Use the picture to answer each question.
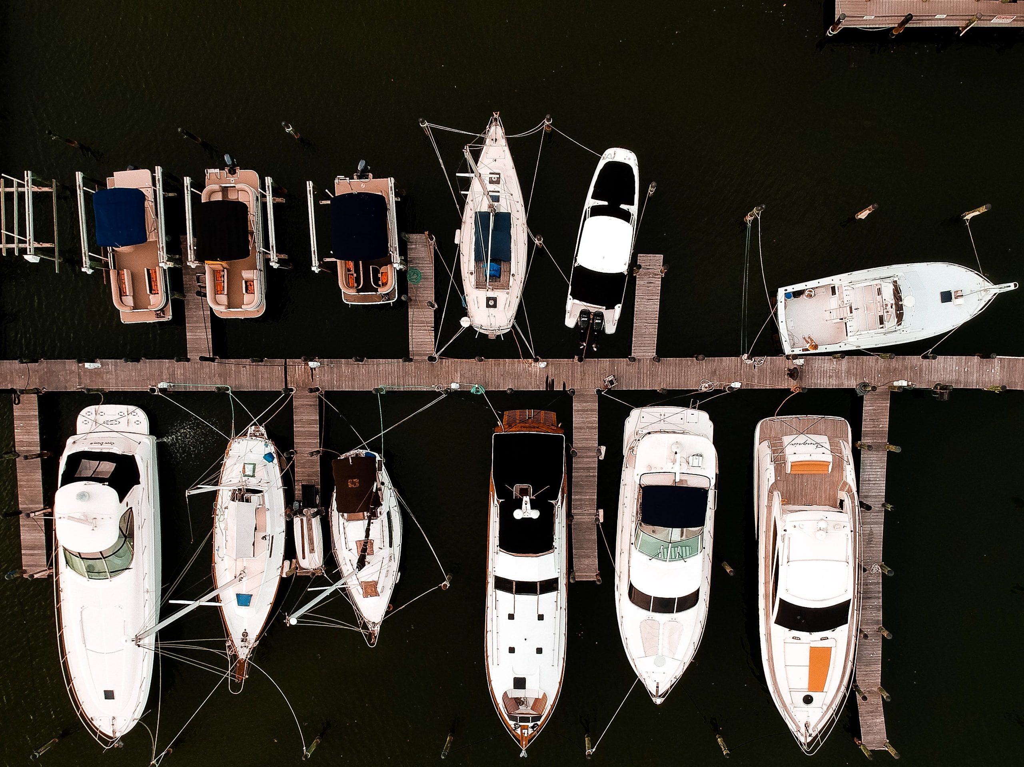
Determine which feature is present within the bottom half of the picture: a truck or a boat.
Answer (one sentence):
Visible within the bottom half of the picture is a boat.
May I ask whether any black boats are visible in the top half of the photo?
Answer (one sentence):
Yes, the scene does show a black boat in the top half of the photo.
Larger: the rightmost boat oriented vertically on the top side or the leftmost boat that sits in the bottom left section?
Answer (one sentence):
Compared with the rightmost boat oriented vertically on the top side, the leftmost boat that sits in the bottom left section is the larger one.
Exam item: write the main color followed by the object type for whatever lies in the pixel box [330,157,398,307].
black boat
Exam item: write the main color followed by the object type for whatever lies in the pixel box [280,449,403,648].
white boat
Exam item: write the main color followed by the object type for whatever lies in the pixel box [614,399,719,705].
white boat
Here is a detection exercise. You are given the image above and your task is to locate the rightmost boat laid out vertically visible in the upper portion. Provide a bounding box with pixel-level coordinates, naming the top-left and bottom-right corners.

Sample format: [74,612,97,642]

[565,147,639,350]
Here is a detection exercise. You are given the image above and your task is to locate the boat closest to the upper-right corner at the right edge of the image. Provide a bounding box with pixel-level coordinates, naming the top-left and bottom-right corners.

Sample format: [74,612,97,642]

[770,262,1018,355]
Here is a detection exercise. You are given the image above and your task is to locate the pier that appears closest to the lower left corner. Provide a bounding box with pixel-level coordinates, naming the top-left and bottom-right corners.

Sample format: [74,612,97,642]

[13,391,51,578]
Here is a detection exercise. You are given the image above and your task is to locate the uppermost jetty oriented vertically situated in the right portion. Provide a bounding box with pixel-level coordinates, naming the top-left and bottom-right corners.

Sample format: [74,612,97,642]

[630,254,664,357]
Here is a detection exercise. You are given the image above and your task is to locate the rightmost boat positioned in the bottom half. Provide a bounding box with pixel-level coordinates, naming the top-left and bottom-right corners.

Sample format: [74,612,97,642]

[751,415,863,756]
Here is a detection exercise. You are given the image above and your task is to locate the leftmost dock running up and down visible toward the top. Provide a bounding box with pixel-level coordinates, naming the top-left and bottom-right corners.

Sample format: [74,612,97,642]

[180,236,215,358]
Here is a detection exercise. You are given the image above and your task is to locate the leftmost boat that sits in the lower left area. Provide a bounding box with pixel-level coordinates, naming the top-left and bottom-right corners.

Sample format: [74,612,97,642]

[53,404,167,753]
